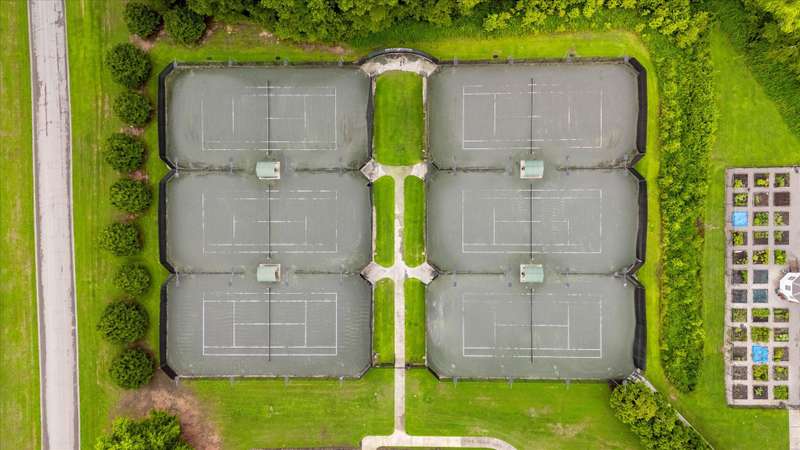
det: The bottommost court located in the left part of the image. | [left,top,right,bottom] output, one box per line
[168,273,372,377]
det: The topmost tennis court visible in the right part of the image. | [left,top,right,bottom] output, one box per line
[430,63,638,170]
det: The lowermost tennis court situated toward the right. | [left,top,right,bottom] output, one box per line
[428,273,637,378]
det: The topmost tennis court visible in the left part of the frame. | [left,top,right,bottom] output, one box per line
[166,66,370,170]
